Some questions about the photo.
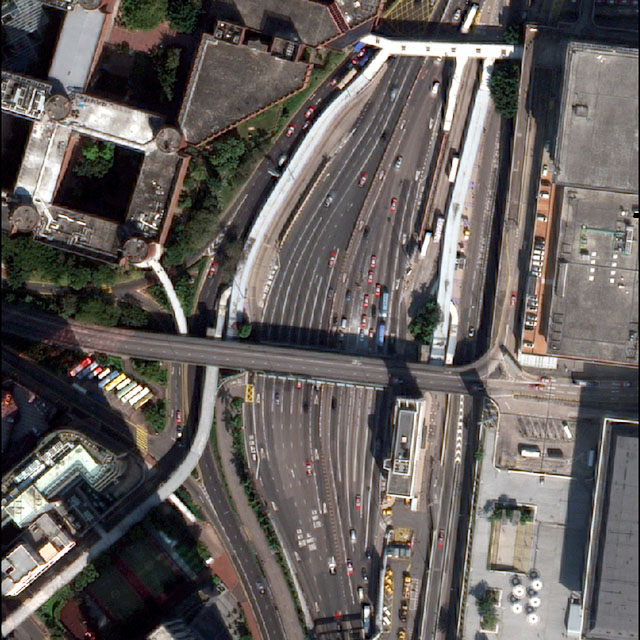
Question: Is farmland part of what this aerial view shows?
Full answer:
No, there is no farmland in the image.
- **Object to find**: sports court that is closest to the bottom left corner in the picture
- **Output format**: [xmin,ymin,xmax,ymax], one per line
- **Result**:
[79,552,160,640]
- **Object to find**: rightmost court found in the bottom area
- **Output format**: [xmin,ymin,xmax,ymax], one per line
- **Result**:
[121,518,191,597]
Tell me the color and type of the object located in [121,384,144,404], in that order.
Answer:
white bus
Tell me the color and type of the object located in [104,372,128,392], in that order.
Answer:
yellow vehicle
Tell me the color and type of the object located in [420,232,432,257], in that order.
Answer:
white vehicle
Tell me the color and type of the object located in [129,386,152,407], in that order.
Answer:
white bus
